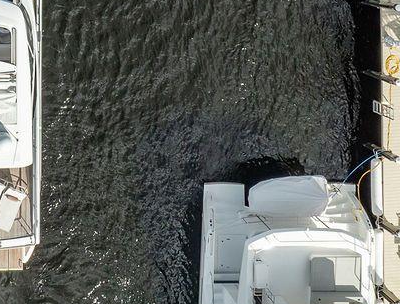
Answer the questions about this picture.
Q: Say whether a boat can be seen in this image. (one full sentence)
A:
Yes, there is a boat in the image.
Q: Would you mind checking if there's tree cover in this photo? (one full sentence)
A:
No, there's no tree cover in this view.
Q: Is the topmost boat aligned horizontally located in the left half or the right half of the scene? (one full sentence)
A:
The topmost boat aligned horizontally sits on the right side.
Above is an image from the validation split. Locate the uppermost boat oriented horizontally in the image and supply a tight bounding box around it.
[246,173,342,216]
